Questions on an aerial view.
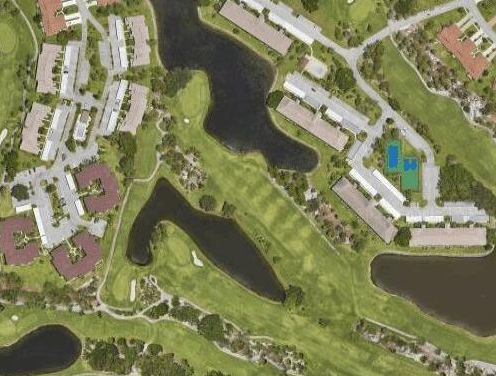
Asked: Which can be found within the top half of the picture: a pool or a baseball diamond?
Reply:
pool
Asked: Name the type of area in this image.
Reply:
golf course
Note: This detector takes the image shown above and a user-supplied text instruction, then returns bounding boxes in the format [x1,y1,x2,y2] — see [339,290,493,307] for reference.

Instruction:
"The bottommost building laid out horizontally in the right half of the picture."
[409,225,486,246]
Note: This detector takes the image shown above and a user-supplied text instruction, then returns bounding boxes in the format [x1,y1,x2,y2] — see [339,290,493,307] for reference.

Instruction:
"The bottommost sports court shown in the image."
[401,158,419,190]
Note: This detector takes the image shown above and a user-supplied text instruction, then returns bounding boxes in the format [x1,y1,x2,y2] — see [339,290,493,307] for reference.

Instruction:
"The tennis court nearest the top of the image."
[387,140,401,171]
